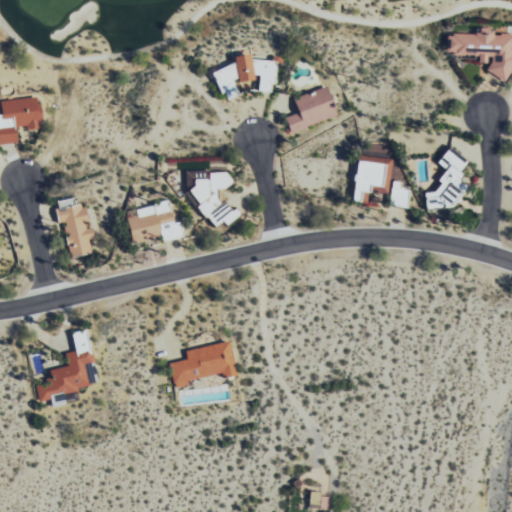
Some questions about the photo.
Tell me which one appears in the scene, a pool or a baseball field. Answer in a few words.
pool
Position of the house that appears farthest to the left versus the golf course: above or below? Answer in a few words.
below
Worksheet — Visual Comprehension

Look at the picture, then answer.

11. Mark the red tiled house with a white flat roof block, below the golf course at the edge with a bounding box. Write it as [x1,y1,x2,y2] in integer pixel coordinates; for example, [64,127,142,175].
[0,97,42,143]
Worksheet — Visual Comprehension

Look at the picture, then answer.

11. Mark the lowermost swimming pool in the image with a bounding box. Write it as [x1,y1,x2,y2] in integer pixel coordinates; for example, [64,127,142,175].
[178,384,230,408]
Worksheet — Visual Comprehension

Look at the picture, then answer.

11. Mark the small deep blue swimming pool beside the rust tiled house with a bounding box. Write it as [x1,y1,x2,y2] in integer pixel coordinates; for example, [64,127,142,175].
[30,353,47,378]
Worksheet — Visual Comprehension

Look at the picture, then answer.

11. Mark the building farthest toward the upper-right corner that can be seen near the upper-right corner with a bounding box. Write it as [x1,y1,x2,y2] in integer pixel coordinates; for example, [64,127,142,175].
[449,25,512,82]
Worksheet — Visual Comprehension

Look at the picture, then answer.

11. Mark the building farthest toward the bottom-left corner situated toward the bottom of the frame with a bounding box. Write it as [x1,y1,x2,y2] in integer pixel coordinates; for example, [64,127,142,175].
[35,330,98,408]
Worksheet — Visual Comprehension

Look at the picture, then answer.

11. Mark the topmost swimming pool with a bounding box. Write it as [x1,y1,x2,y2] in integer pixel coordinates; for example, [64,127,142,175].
[289,61,322,91]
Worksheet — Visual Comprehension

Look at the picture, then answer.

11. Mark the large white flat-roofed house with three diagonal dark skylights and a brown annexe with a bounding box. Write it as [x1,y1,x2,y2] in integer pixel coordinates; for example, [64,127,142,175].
[186,171,242,227]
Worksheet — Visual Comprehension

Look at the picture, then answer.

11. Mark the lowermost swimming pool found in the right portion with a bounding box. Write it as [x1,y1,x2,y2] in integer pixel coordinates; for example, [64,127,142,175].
[409,157,437,190]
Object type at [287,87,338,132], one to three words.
house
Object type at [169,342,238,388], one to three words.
house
